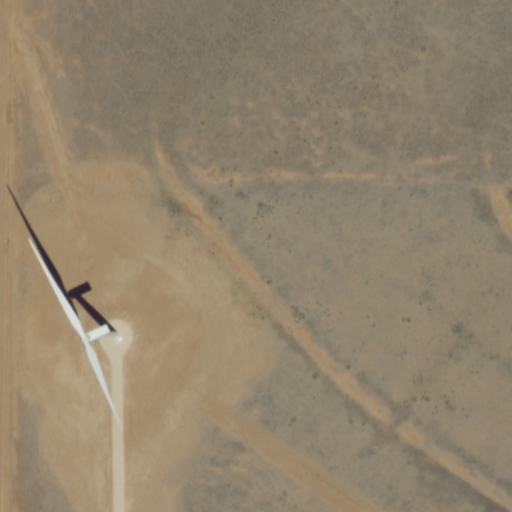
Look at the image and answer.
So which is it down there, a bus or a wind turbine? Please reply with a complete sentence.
Of the two, only a wind turbine appears.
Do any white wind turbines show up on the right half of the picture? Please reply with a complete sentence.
No, I can find no white wind turbine on the right half of the picture.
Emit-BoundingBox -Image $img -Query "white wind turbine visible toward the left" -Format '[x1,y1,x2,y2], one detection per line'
[29,238,122,432]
